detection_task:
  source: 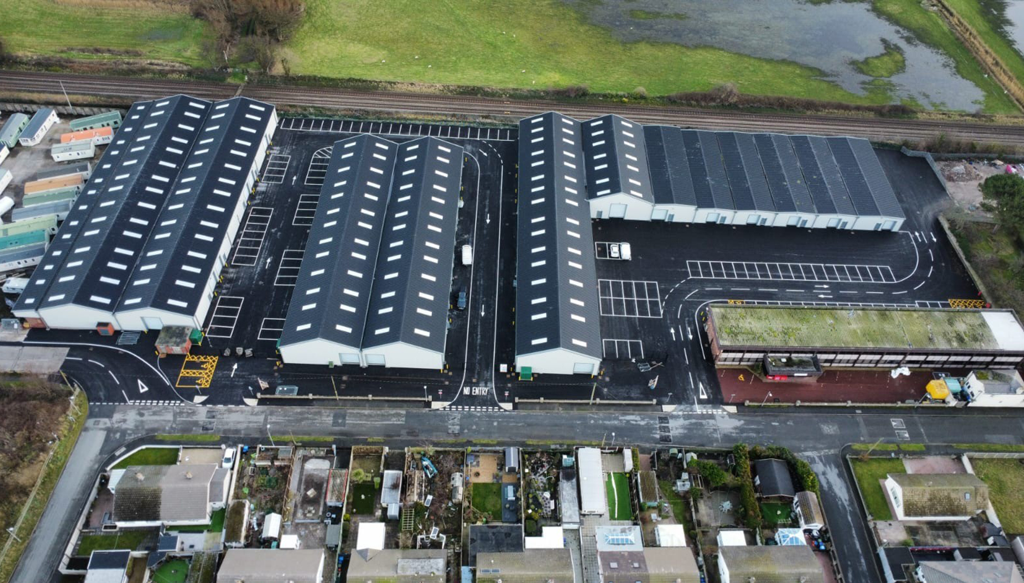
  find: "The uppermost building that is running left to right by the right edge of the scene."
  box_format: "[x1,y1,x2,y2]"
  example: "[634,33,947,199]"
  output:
[707,304,1024,379]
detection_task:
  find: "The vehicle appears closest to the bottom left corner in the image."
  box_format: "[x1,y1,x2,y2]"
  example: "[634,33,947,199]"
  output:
[219,446,236,469]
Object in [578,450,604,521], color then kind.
white camper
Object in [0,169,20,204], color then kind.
white camper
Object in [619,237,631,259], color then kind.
white vehicle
